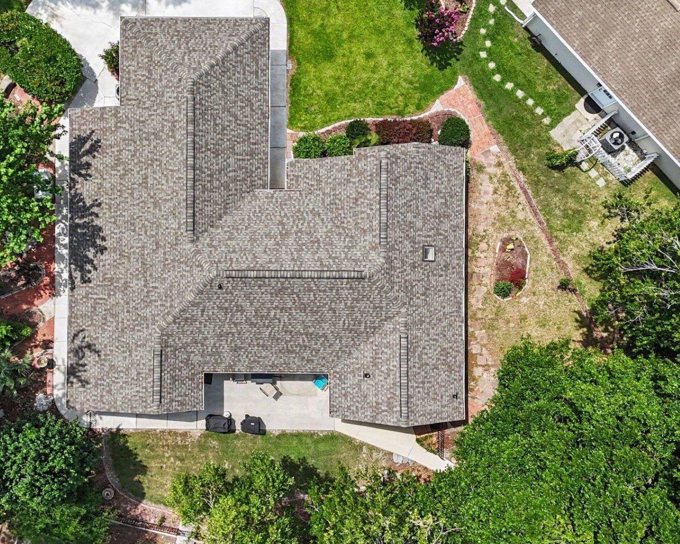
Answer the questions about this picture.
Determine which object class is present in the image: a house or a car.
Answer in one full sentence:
The one in the frame is a house.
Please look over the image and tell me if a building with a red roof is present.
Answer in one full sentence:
No, there is no building with a red roof in the image.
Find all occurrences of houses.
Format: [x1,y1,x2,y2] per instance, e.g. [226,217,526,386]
[513,0,680,186]
[66,17,465,428]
